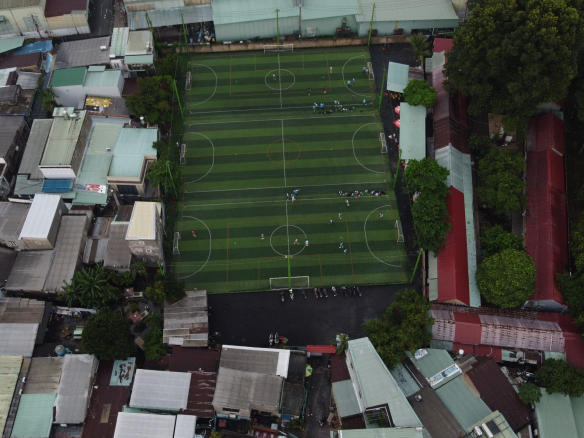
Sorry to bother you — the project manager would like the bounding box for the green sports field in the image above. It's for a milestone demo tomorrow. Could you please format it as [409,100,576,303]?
[171,44,412,294]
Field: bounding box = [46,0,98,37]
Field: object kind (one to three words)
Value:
building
